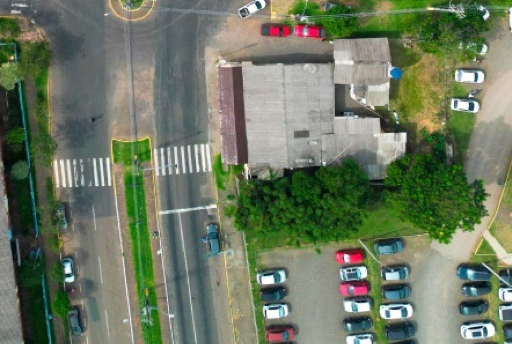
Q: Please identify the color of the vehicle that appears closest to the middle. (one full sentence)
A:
The vehicle that appears closest to the middle is blue.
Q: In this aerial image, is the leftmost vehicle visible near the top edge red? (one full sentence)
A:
No, the leftmost vehicle visible near the top edge is white.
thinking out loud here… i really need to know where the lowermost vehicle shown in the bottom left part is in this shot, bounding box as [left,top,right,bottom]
[66,304,86,337]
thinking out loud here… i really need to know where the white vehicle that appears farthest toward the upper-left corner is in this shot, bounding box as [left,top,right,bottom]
[237,0,268,20]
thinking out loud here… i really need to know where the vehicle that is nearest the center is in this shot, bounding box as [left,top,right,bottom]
[201,222,221,256]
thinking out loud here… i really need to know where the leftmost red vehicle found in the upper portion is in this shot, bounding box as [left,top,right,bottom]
[260,22,291,38]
